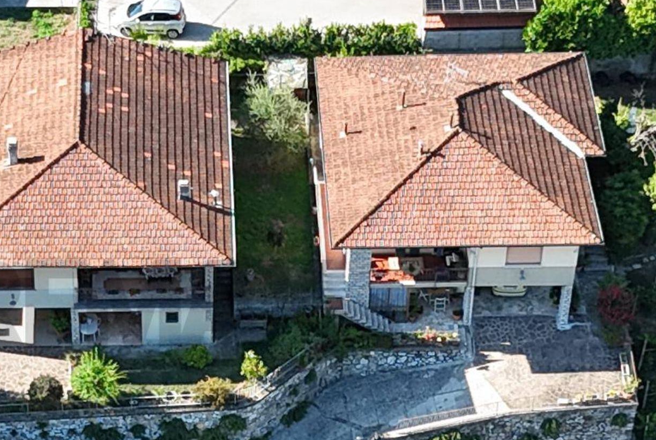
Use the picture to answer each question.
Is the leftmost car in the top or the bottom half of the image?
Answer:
top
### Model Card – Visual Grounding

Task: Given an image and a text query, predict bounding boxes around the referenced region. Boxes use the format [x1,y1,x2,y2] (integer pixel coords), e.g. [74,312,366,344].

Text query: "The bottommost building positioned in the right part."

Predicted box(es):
[310,49,609,326]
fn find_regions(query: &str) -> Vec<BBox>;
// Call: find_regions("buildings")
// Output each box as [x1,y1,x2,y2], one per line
[310,49,609,326]
[417,0,536,50]
[0,27,238,349]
